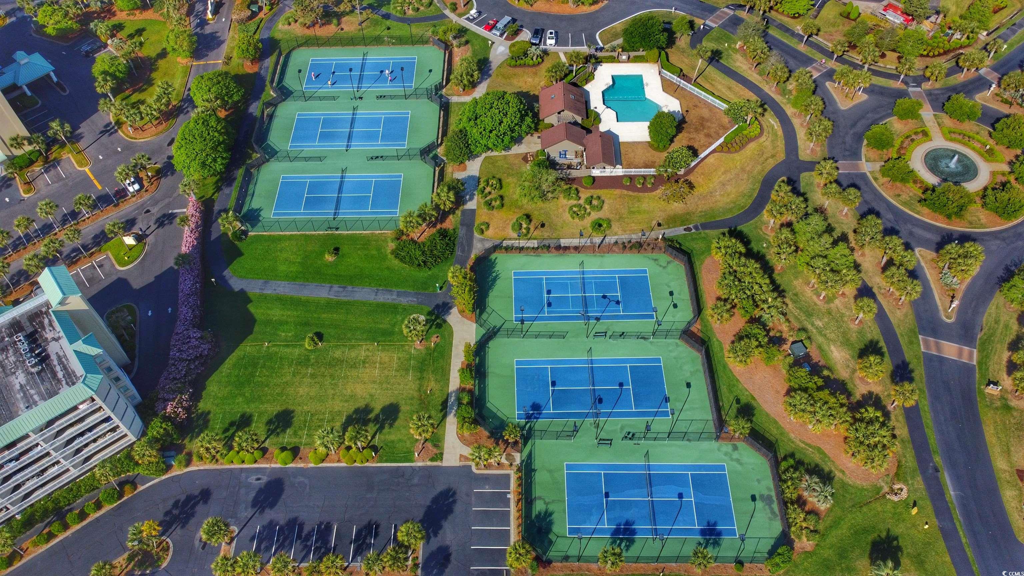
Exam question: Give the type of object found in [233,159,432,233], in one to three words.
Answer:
tennis court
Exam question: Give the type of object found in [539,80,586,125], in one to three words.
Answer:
building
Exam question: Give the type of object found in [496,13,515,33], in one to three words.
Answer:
vehicle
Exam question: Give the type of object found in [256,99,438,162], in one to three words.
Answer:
tennis court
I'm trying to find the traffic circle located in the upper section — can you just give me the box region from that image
[825,87,1024,262]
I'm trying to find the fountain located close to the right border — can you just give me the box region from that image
[924,146,981,185]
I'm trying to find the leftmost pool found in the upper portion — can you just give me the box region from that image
[582,62,683,143]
